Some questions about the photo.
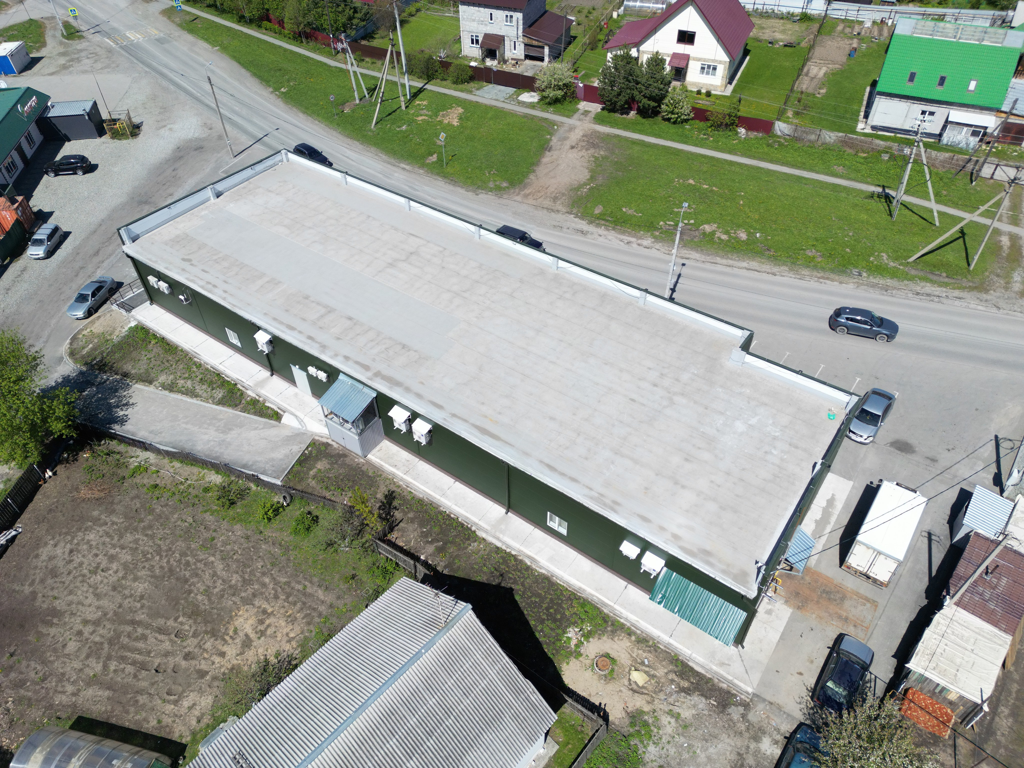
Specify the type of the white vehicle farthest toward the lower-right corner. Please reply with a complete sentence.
Specifically, the white vehicle farthest toward the lower-right corner is a truck.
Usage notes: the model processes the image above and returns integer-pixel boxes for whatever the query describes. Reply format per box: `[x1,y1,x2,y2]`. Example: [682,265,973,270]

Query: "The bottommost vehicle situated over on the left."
[65,271,119,316]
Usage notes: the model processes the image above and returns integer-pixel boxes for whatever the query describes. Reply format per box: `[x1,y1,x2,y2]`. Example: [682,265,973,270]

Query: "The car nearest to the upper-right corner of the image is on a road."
[830,304,900,343]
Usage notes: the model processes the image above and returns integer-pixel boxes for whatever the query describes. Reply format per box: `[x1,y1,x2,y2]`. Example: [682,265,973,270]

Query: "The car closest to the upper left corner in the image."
[38,152,93,178]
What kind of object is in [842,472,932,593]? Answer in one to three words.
truck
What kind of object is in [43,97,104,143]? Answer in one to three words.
shed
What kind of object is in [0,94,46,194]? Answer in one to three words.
building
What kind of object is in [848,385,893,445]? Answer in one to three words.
car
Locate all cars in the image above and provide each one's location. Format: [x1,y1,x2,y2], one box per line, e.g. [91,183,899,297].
[22,221,64,258]
[806,635,873,726]
[65,271,119,316]
[495,216,552,250]
[830,304,900,343]
[294,138,342,167]
[848,385,893,445]
[38,152,93,178]
[764,718,826,768]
